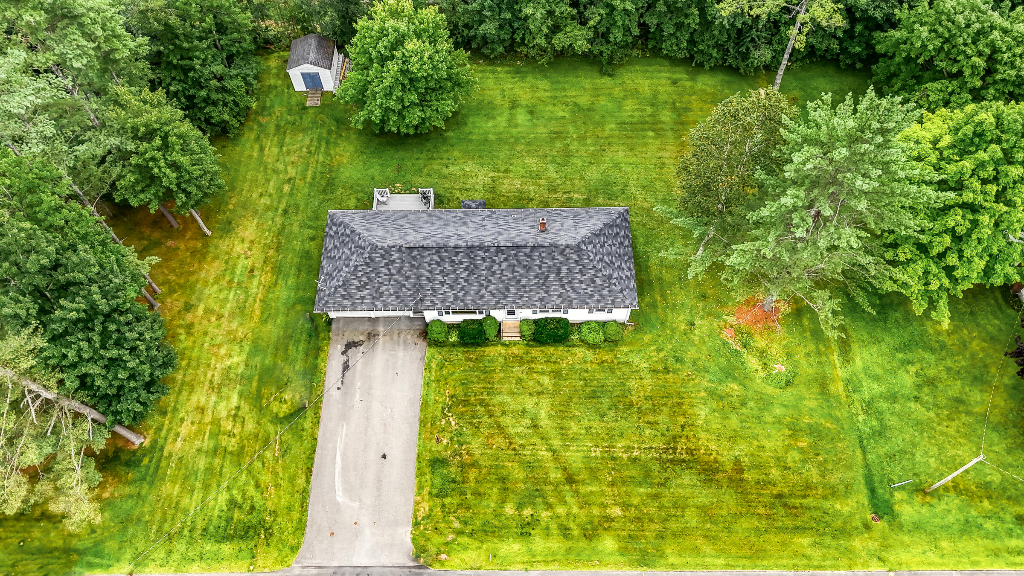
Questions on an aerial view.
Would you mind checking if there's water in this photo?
No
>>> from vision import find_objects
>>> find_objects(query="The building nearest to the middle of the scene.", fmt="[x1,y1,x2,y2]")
[313,200,640,323]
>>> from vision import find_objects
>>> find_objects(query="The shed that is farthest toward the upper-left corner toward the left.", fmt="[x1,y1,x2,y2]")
[287,31,339,90]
